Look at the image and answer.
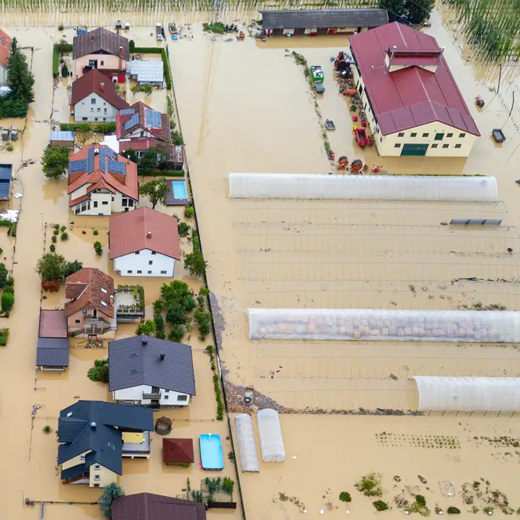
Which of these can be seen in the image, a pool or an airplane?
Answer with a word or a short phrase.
pool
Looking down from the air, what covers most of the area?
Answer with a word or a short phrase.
water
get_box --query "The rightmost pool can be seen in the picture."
[199,433,223,474]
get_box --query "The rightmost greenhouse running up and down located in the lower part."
[258,403,286,461]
